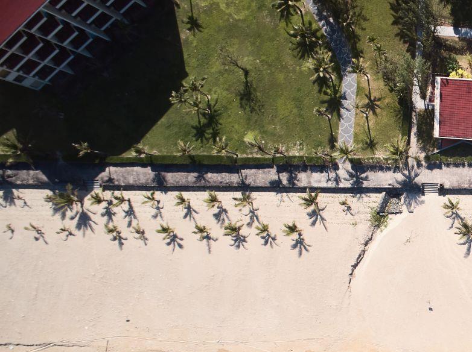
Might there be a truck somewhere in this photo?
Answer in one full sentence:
No, there isn't any truck down there.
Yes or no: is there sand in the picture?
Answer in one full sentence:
Yes, sand can be seen from above here.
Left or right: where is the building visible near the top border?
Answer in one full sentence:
The building visible near the top border sits on the left side.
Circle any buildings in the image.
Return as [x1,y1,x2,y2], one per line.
[0,0,146,92]
[426,73,472,155]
